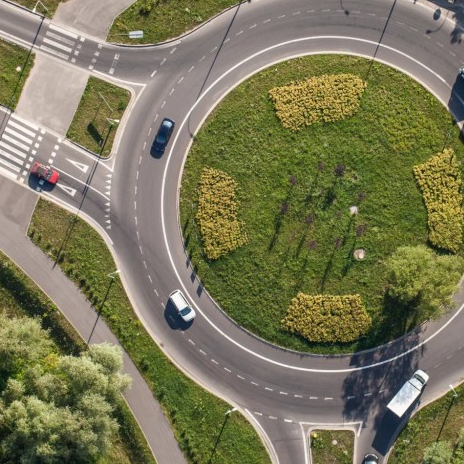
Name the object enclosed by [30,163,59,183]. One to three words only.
car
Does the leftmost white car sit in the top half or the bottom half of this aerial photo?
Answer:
bottom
